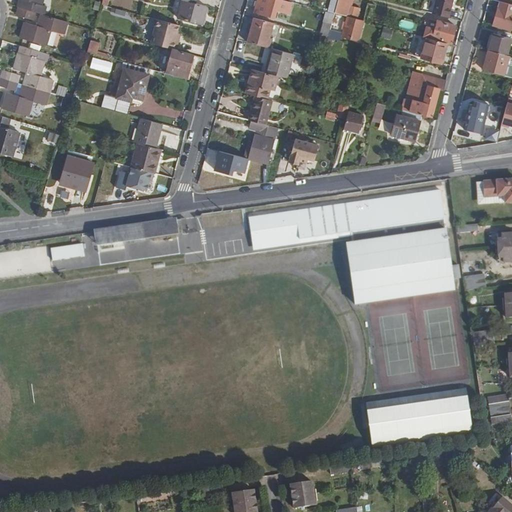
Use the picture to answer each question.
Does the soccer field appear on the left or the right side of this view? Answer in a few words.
left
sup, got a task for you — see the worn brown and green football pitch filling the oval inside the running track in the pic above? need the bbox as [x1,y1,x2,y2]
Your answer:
[0,273,348,474]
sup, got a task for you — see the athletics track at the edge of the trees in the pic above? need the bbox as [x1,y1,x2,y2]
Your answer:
[0,244,366,489]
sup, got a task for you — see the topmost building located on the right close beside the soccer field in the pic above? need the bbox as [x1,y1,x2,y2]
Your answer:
[249,190,444,249]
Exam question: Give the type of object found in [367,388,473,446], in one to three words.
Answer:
building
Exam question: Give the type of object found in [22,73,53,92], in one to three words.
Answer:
house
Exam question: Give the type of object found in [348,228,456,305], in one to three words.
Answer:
building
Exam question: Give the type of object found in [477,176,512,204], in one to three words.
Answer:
house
